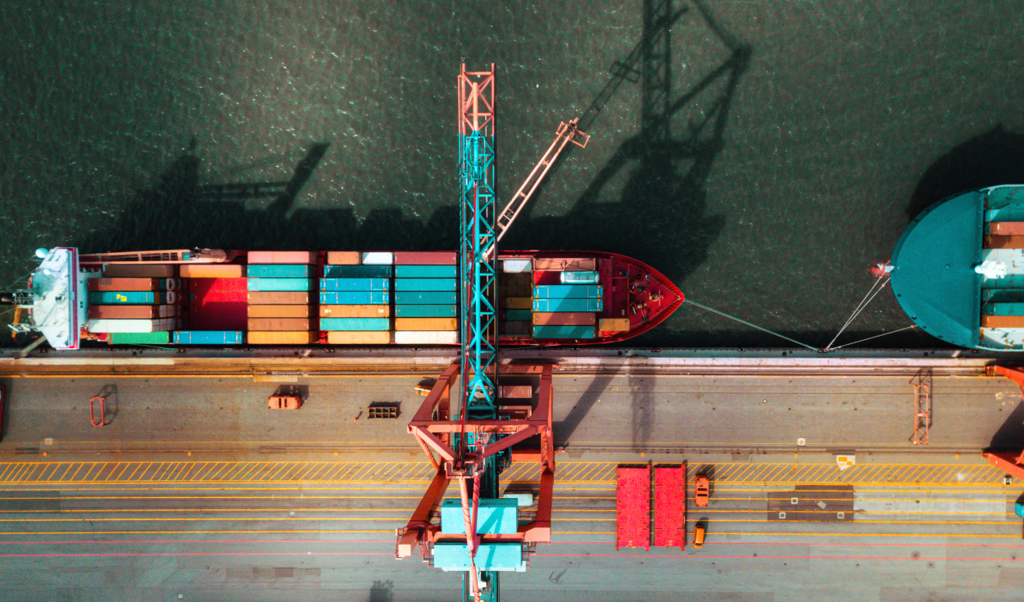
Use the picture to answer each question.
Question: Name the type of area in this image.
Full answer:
It's a port.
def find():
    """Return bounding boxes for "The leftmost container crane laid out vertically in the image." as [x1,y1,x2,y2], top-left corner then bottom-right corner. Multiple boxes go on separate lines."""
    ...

[391,57,563,602]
